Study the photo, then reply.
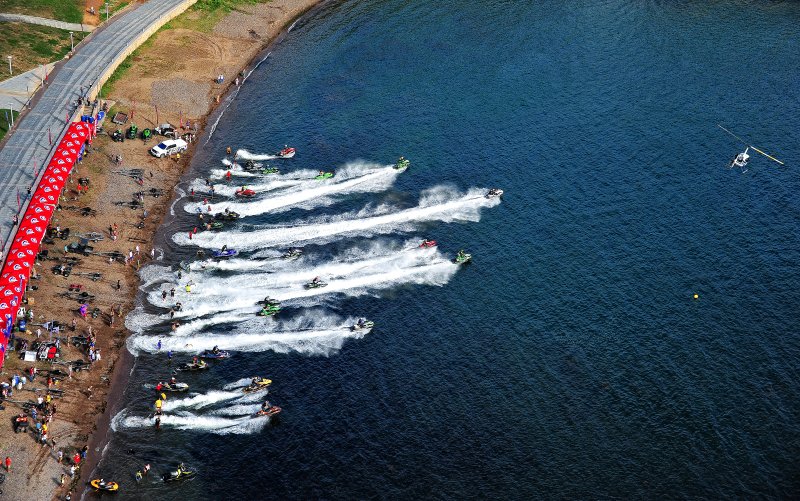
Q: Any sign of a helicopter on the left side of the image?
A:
No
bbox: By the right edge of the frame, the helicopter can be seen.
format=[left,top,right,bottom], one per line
[712,130,785,173]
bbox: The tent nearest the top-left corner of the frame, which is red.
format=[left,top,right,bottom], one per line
[25,120,96,217]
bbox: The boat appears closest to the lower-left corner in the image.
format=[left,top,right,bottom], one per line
[90,478,118,491]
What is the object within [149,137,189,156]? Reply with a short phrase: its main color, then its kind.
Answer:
white vehicle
